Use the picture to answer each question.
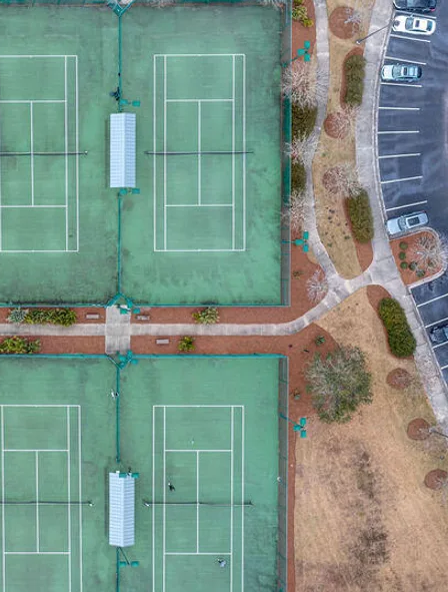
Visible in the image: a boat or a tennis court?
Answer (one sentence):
Of the two, only a tennis court appears.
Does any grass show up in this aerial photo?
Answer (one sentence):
Yes, the picture does contain grass.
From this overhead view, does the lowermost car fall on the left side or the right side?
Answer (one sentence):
The lowermost car appears in the right half of the scene.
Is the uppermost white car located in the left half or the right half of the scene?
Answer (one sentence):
The uppermost white car sits on the right side.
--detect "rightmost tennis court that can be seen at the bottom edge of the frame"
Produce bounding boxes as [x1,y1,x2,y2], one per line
[117,356,279,592]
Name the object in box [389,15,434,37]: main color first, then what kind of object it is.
white car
